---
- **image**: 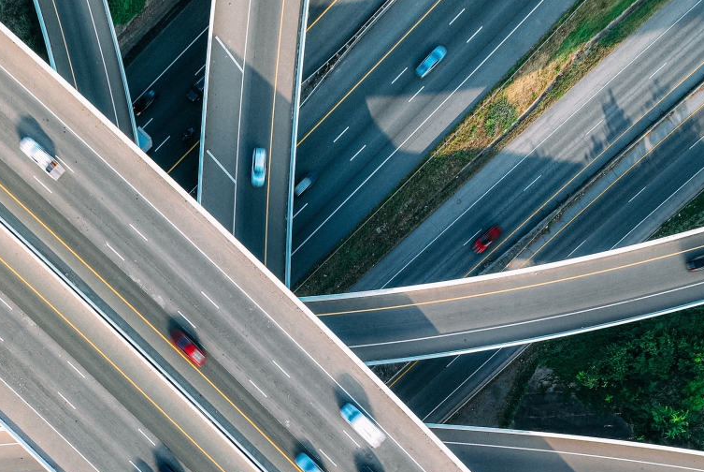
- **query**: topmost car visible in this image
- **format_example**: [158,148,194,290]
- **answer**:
[414,44,446,76]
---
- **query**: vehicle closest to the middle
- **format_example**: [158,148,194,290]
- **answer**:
[293,165,324,196]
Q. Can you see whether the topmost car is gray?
No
